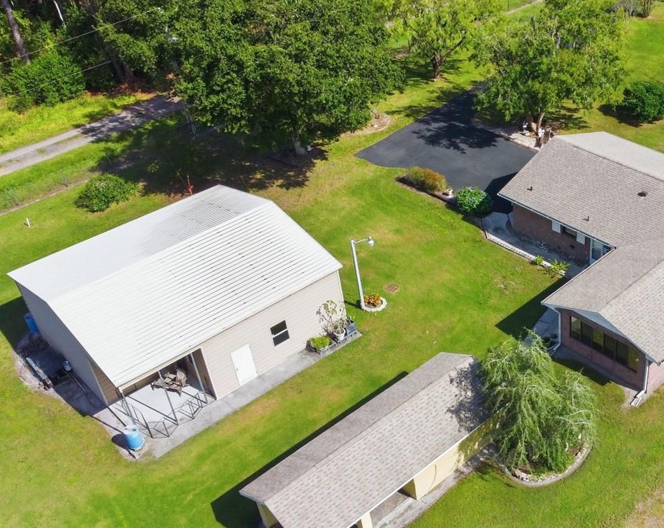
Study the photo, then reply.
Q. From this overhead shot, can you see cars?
No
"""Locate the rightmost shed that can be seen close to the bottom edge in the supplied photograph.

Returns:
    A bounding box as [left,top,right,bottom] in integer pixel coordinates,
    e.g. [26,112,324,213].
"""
[239,355,511,528]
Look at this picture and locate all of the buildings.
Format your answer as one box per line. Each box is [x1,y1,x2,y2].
[239,355,511,528]
[497,132,664,407]
[4,182,352,436]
